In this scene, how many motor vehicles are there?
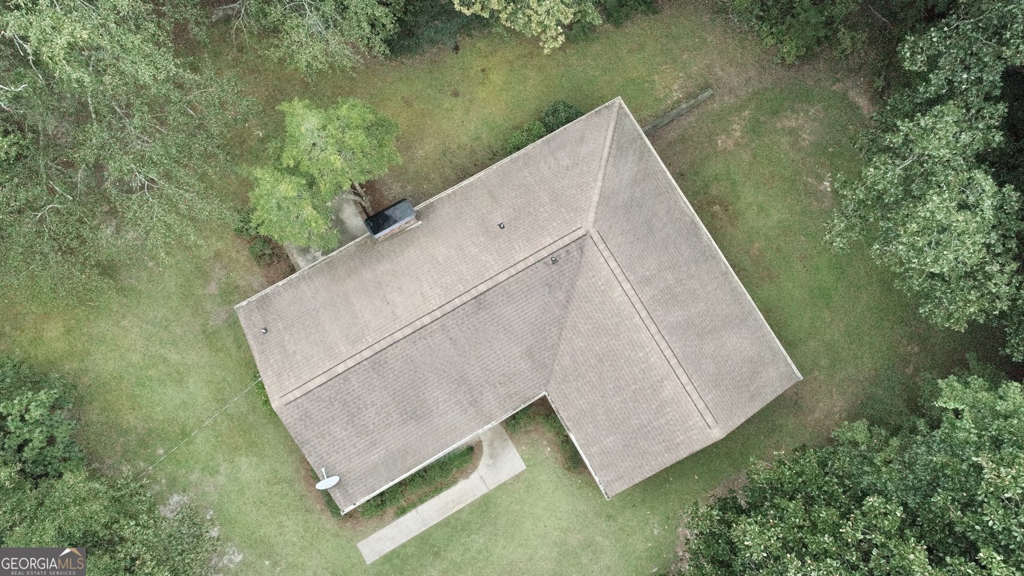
zero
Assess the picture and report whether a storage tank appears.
No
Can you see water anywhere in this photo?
No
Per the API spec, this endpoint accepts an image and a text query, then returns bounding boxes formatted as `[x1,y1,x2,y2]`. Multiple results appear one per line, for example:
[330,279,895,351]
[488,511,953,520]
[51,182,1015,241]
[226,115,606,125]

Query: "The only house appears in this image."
[235,98,801,514]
